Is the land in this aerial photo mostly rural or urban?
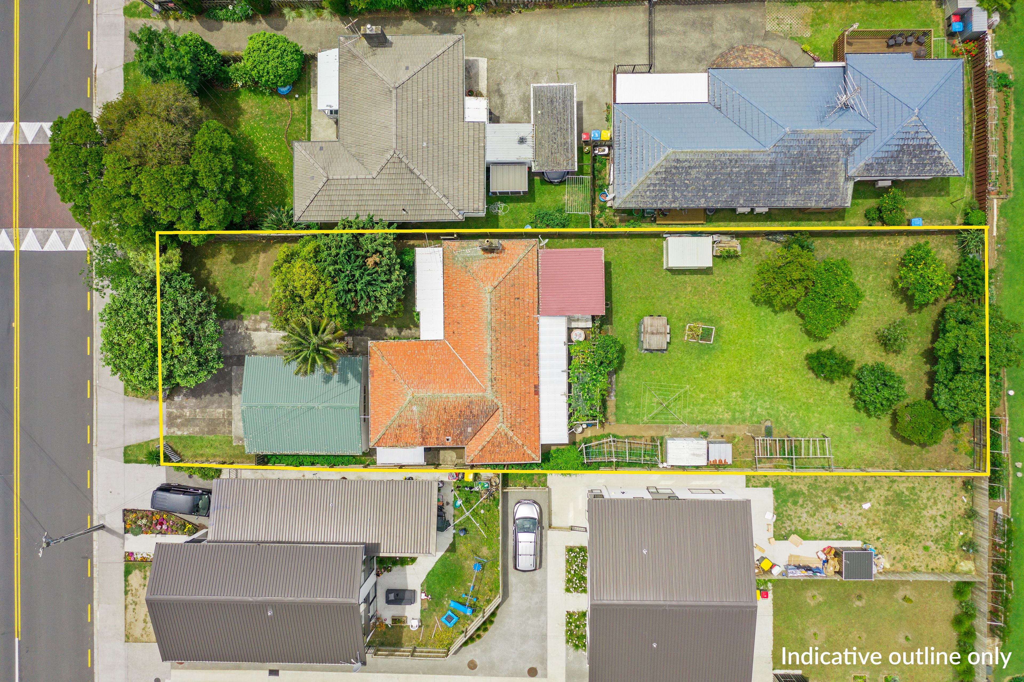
urban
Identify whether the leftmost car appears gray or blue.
gray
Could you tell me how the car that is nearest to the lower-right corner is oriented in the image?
vertically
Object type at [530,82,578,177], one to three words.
building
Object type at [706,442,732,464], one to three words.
shed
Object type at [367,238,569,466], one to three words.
house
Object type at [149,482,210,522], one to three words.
car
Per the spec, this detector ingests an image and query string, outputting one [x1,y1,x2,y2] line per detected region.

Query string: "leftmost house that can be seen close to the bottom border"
[145,478,440,666]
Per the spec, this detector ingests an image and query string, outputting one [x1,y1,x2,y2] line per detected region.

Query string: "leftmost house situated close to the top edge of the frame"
[292,23,489,223]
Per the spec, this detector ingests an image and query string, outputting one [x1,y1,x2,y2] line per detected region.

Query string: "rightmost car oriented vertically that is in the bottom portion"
[510,499,543,572]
